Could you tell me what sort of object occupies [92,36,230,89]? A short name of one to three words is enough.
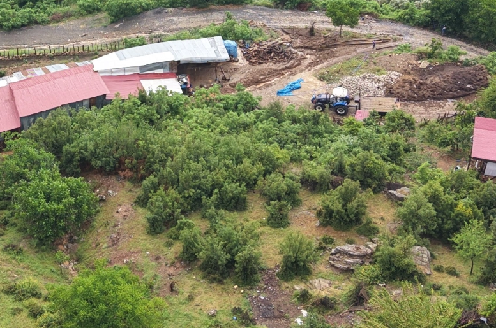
shed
